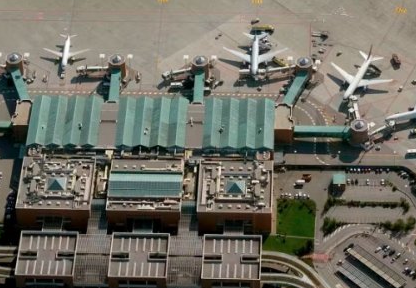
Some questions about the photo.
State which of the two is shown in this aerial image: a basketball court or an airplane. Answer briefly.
airplane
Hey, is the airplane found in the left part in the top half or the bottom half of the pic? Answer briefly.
top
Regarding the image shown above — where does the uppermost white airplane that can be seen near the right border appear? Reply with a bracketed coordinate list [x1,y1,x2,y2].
[333,46,395,98]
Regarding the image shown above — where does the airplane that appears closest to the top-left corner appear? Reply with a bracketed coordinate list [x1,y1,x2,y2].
[42,31,89,78]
